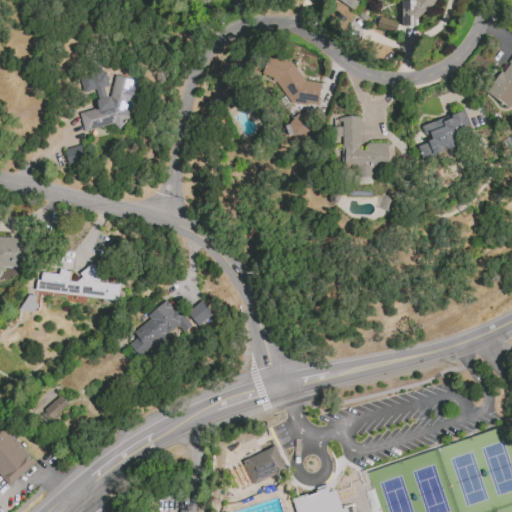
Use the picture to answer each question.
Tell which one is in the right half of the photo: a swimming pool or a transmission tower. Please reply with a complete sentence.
The feature located in the right half of the photo is a swimming pool.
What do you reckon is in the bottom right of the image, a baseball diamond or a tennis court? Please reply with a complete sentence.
You can see a tennis court in the bottom right of the image.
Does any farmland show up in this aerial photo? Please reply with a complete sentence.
No, no farmland is visible.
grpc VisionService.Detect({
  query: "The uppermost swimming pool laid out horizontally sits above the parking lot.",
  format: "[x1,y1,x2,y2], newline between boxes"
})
[336,194,392,220]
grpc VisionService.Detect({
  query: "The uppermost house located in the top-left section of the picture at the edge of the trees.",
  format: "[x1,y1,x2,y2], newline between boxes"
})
[80,70,134,130]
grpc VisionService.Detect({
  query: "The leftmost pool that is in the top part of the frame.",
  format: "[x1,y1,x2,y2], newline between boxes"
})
[230,106,261,137]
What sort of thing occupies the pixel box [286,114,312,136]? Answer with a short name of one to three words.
house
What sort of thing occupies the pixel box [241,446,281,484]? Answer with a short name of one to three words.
building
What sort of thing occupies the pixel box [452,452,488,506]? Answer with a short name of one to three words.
tennis court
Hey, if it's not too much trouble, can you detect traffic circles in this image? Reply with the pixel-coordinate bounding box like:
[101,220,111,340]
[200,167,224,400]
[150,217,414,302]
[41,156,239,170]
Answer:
[291,424,332,485]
